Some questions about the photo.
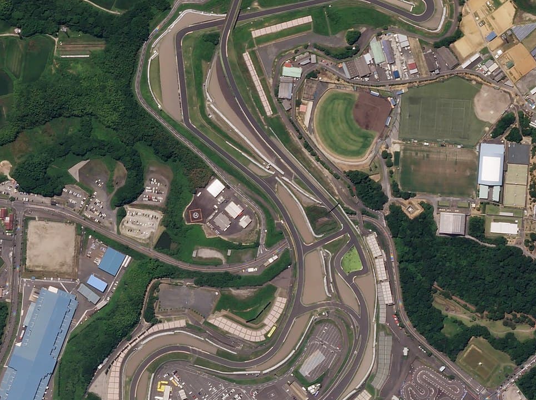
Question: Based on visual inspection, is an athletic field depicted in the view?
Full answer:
Yes, the photo shows an athletic field.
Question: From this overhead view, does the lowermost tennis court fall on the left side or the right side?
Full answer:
It is on the right.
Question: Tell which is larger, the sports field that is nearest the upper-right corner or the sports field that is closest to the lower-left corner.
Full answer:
The larger object is the sports field that is closest to the lower-left corner, with the sports field that is nearest the upper-right corner being the smaller of the pair.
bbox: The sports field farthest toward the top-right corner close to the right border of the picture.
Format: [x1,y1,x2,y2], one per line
[474,85,512,123]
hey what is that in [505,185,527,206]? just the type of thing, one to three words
tennis court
